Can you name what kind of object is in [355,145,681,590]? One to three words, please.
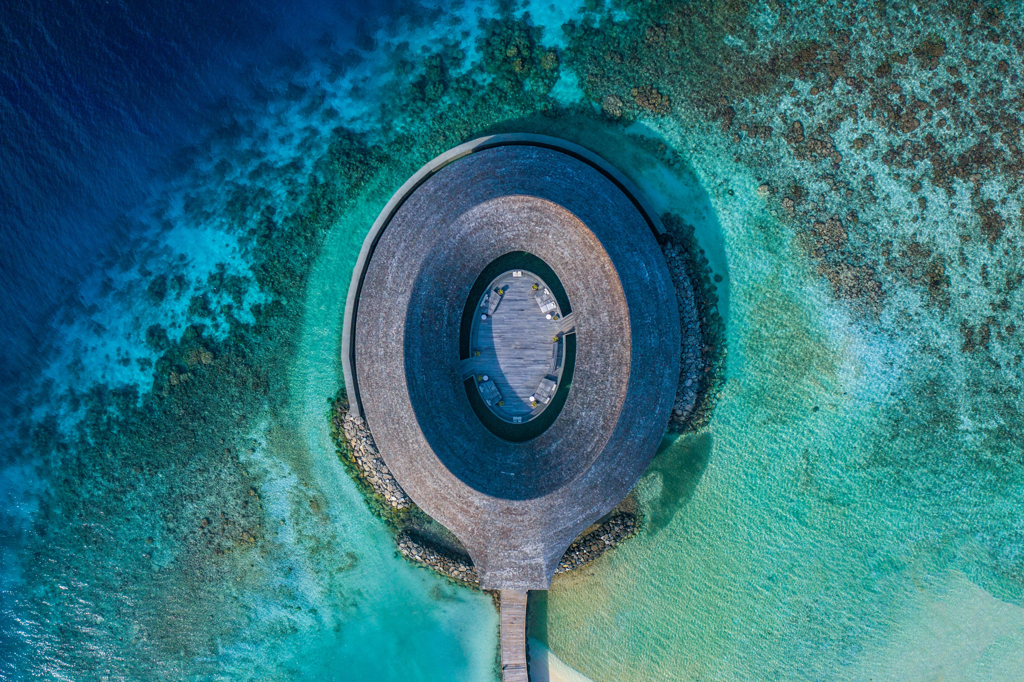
building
